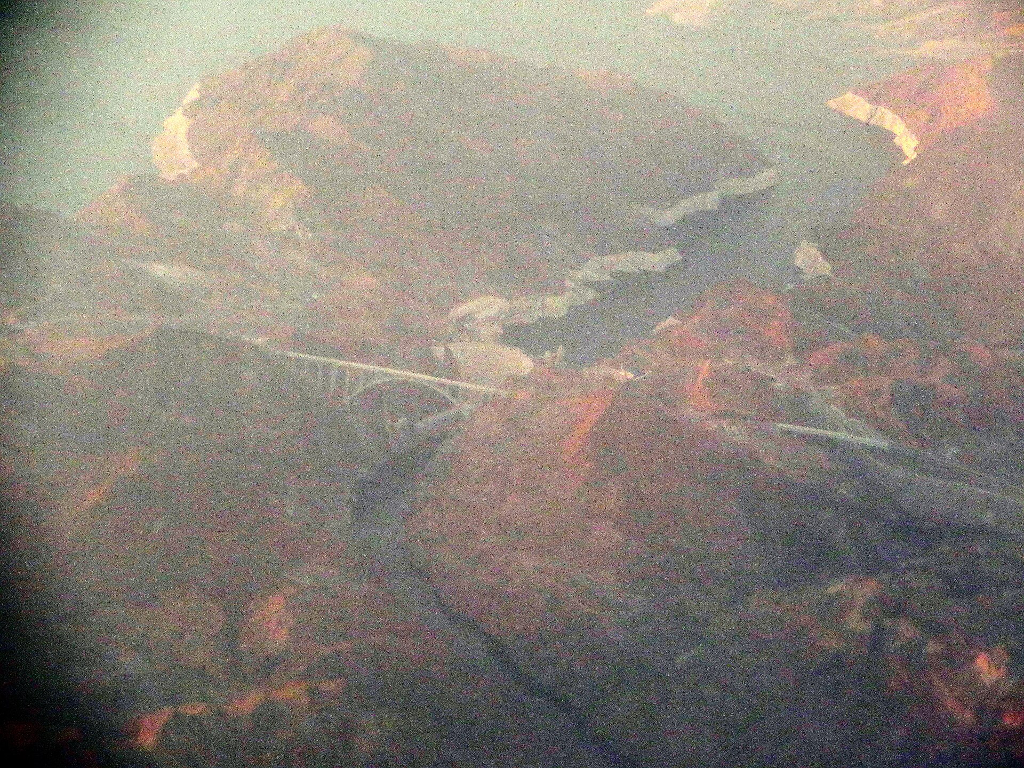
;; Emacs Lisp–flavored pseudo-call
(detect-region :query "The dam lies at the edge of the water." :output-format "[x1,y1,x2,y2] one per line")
[434,340,537,423]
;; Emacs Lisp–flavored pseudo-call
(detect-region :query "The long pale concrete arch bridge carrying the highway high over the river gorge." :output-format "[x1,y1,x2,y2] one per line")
[247,337,519,429]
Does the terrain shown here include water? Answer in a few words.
Yes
